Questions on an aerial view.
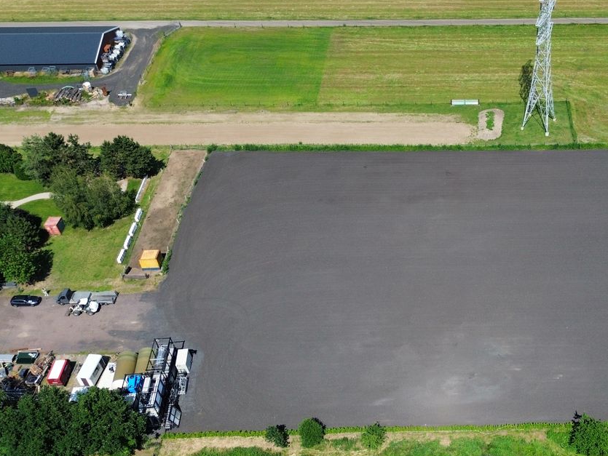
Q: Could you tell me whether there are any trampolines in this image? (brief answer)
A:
No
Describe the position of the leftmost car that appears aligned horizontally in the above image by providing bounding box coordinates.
[8,290,43,305]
